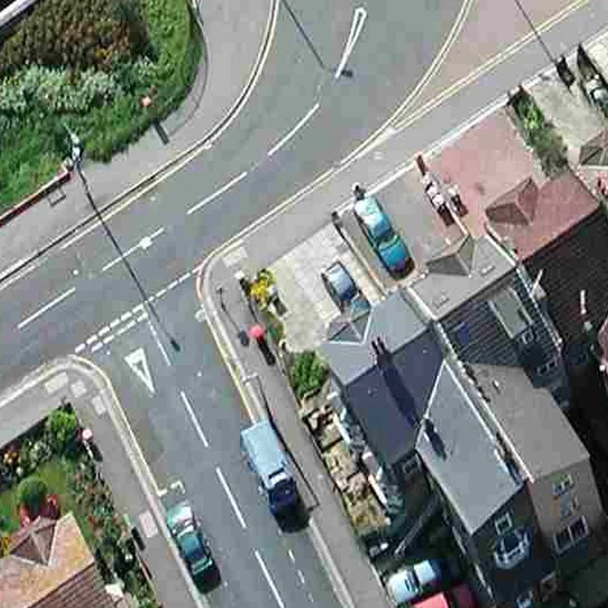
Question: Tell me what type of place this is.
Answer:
residential area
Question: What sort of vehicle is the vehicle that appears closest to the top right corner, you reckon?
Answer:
car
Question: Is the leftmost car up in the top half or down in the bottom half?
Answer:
bottom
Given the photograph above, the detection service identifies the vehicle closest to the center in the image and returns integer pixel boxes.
[327,265,375,314]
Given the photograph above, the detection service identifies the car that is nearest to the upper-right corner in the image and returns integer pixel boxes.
[357,200,410,274]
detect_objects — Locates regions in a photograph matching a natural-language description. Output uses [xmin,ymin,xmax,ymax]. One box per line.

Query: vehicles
[392,555,467,607]
[235,418,296,514]
[357,200,410,274]
[327,265,375,314]
[164,508,216,582]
